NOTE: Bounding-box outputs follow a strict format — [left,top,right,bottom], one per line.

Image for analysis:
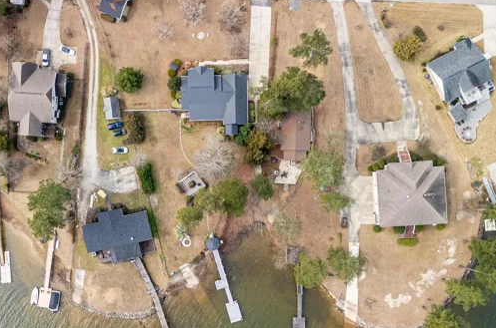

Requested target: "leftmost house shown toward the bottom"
[82,208,156,263]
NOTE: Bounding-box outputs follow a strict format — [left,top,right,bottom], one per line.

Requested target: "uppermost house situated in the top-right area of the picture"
[424,38,496,122]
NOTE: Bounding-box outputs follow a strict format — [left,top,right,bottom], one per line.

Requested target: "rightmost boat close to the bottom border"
[48,291,61,312]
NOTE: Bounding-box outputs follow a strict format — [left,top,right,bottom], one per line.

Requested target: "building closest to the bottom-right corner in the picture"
[373,150,448,239]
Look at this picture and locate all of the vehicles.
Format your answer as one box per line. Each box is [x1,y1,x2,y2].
[41,48,48,65]
[106,122,123,130]
[112,129,126,137]
[58,45,75,54]
[343,217,348,226]
[111,147,128,153]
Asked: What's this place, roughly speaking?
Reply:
residential area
